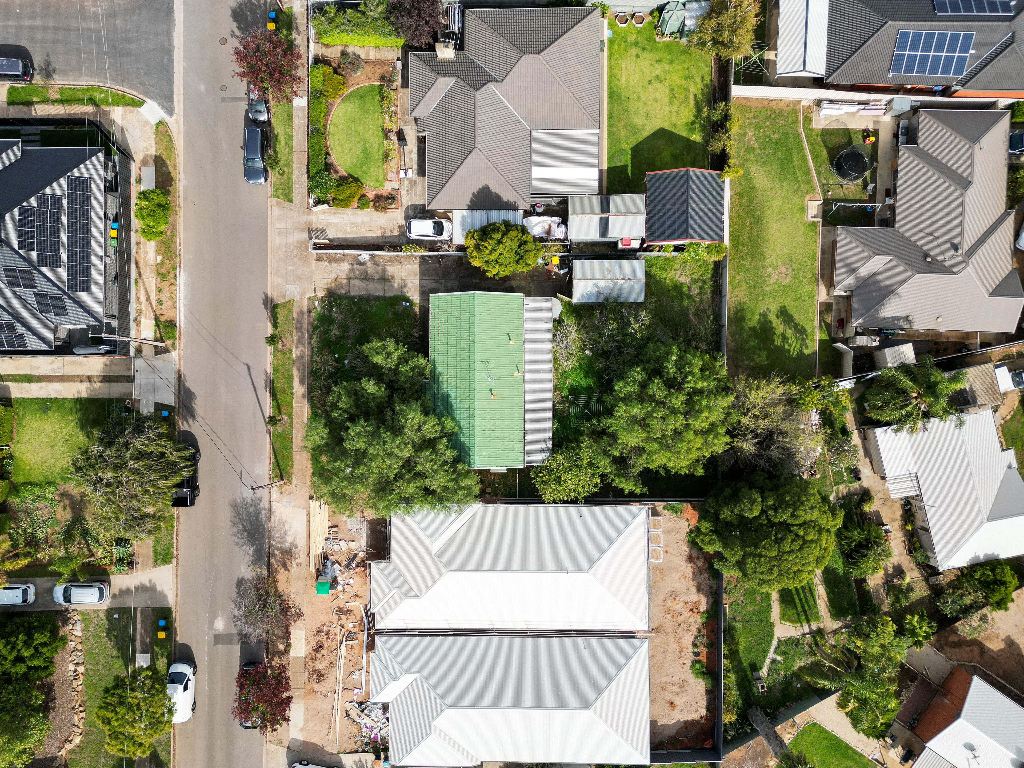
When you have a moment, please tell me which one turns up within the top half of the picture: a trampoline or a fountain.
trampoline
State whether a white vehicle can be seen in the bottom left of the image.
Yes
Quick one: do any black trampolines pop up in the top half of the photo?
Yes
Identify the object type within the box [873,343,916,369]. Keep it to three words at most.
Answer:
house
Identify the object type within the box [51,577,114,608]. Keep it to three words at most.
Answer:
car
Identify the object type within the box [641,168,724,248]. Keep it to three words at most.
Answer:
shed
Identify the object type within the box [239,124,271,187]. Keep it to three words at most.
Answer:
car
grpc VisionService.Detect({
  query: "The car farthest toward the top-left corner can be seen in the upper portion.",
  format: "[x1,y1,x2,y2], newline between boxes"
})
[0,51,31,84]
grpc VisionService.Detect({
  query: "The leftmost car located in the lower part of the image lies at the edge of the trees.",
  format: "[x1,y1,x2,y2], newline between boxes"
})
[0,579,34,607]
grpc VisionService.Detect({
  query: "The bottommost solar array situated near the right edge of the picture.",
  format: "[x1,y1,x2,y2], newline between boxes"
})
[890,30,976,77]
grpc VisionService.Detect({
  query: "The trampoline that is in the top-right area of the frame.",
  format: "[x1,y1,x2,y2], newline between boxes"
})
[830,143,880,187]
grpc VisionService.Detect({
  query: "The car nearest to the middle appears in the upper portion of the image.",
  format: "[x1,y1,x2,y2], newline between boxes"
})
[404,213,452,242]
